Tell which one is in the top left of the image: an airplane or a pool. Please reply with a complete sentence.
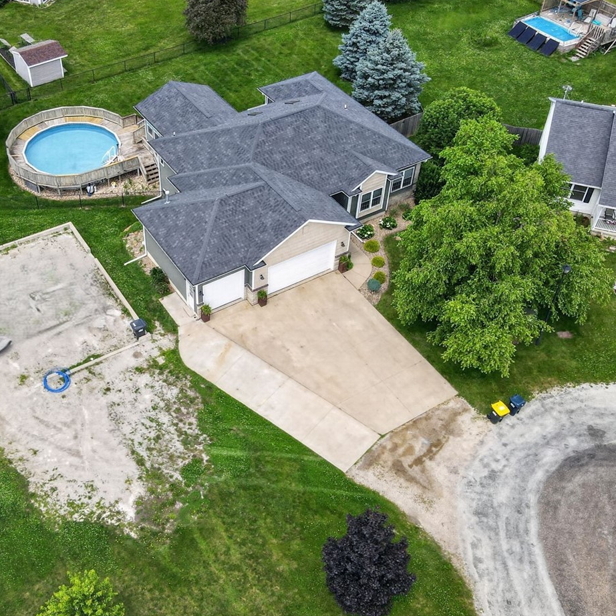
The feature located in the top left of the image is a pool.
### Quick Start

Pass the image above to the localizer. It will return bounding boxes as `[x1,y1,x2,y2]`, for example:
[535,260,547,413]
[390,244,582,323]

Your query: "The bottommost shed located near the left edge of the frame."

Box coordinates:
[11,41,73,87]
